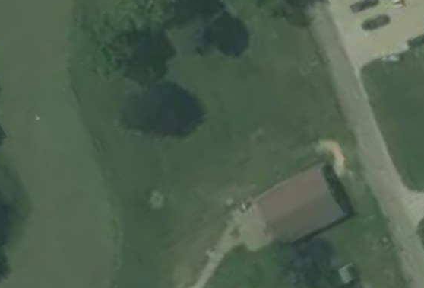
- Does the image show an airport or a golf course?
golf course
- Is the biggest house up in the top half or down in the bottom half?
bottom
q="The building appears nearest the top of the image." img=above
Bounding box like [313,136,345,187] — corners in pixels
[257,165,346,240]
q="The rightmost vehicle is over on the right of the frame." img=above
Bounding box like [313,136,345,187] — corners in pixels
[406,35,424,50]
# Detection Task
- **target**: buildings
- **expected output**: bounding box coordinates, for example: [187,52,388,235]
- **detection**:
[338,264,353,283]
[257,165,346,240]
